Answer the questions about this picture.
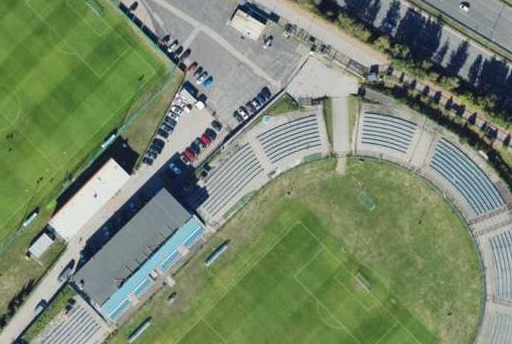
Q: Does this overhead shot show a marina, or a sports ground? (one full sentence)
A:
This image shows a sports ground.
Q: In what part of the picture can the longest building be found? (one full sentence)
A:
The longest building sits in the left section of the image.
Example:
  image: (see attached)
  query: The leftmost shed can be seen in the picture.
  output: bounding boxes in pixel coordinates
[28,234,54,258]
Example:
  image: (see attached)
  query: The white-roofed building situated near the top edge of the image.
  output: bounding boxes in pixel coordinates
[229,9,266,41]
